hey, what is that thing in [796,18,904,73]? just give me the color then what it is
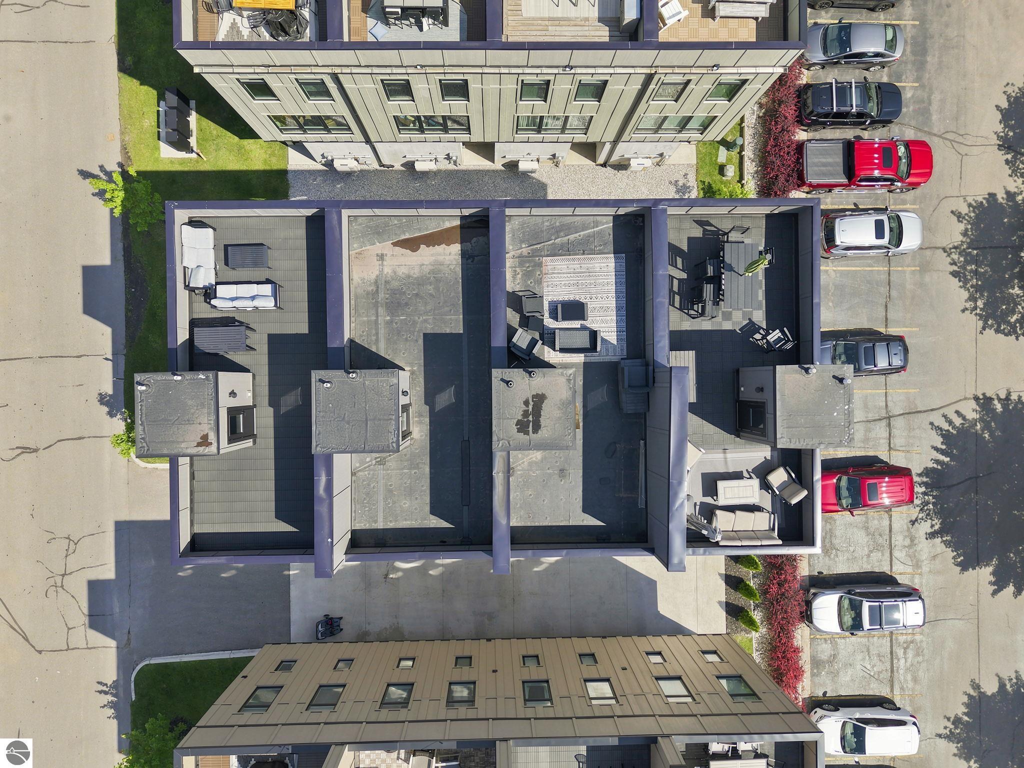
gray car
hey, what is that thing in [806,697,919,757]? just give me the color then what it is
white car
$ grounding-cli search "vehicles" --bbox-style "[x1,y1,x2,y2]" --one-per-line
[807,0,911,13]
[806,697,919,757]
[819,205,922,256]
[821,465,919,515]
[820,329,911,375]
[796,18,904,73]
[795,135,932,193]
[795,77,902,132]
[802,581,928,636]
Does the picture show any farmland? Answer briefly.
No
